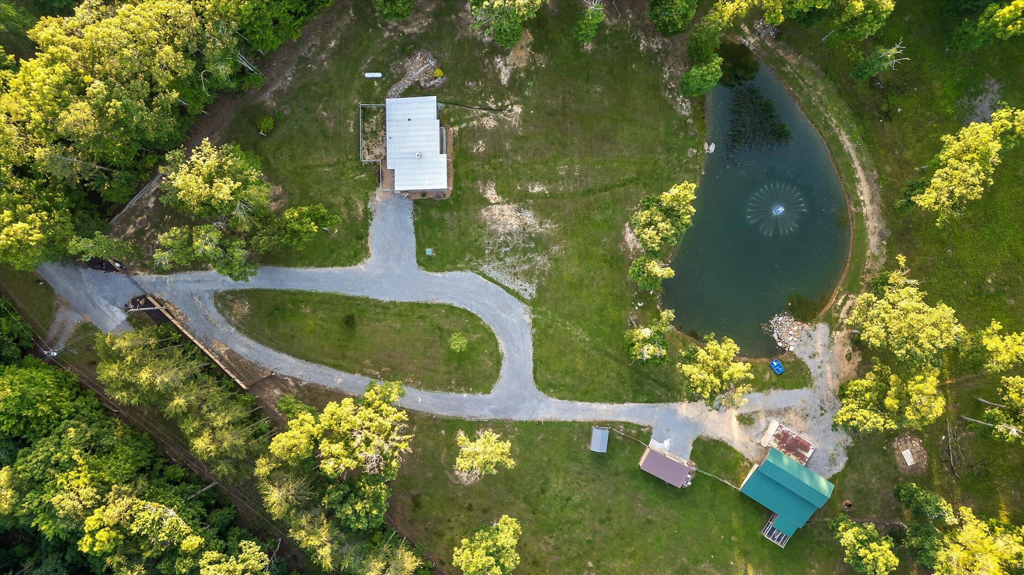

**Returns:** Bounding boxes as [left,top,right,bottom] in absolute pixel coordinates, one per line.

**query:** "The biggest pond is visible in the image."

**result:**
[662,42,851,359]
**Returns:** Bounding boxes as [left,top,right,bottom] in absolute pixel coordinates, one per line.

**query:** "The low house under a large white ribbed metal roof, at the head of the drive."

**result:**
[386,96,452,194]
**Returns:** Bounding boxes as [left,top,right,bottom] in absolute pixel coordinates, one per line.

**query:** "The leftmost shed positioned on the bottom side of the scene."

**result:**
[590,426,609,453]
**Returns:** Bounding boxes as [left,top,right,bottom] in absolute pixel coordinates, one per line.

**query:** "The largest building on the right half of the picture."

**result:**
[739,447,834,537]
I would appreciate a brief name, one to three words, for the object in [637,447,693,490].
building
